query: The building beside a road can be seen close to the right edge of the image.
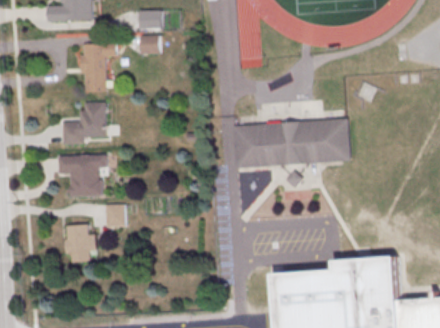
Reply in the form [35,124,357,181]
[266,255,440,328]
